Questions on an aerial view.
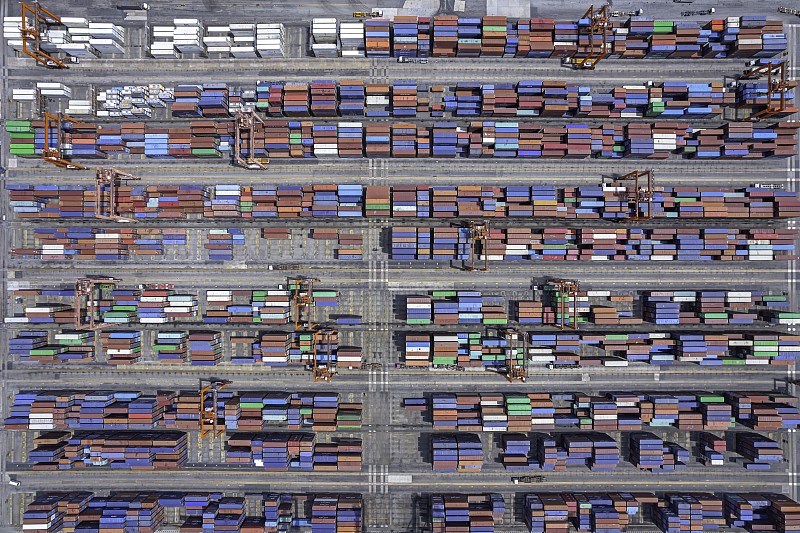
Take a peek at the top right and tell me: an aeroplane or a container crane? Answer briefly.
container crane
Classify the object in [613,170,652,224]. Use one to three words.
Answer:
container crane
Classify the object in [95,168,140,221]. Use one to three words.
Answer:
container crane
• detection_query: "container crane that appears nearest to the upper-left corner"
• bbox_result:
[20,1,71,66]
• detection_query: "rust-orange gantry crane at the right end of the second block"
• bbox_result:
[736,61,786,122]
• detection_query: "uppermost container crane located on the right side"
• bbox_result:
[572,5,608,70]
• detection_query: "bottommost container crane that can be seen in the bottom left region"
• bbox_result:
[199,380,236,439]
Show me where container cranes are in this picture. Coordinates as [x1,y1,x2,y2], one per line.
[75,277,121,329]
[498,327,527,383]
[42,110,91,168]
[199,380,236,439]
[462,221,490,271]
[545,278,578,331]
[95,168,140,221]
[736,61,786,122]
[613,170,652,224]
[20,1,71,66]
[235,110,269,168]
[295,277,324,330]
[572,5,608,70]
[312,325,341,382]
